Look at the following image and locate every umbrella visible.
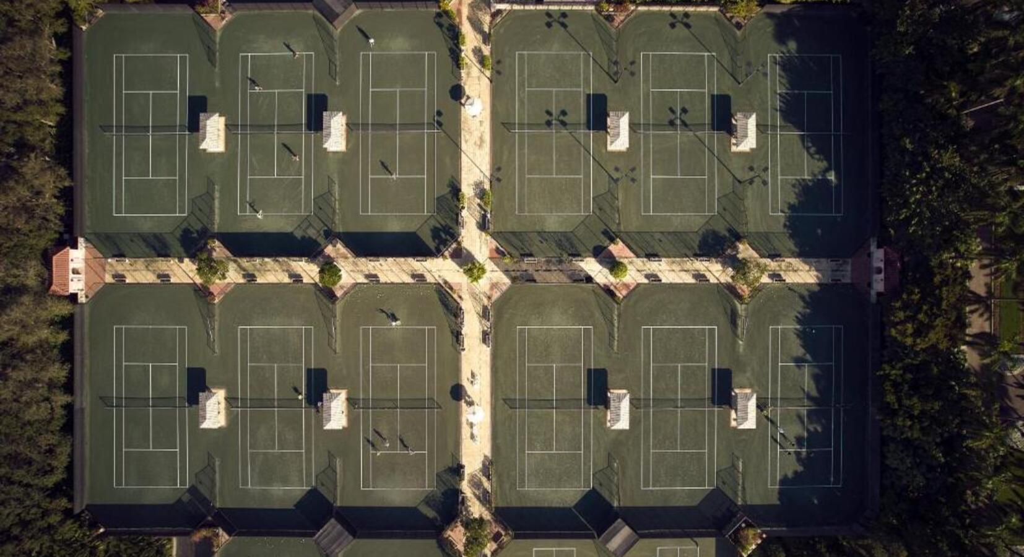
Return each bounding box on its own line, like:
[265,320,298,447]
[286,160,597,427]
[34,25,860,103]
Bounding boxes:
[466,405,483,422]
[465,97,481,114]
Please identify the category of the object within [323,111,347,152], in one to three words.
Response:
building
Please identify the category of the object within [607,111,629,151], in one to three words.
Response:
building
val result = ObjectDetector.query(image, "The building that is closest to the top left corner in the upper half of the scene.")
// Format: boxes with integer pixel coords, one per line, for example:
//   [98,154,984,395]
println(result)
[199,112,226,153]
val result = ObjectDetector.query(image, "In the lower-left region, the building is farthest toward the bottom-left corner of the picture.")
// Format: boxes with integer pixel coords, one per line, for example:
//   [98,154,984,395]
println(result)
[199,389,226,430]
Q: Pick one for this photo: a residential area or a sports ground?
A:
sports ground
